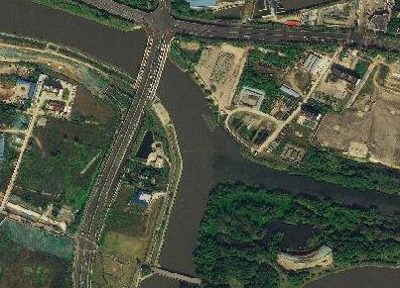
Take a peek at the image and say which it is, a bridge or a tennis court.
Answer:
bridge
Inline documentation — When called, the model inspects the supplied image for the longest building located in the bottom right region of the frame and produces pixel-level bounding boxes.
[273,241,331,265]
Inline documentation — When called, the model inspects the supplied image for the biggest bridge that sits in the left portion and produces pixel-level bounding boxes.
[125,29,168,104]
